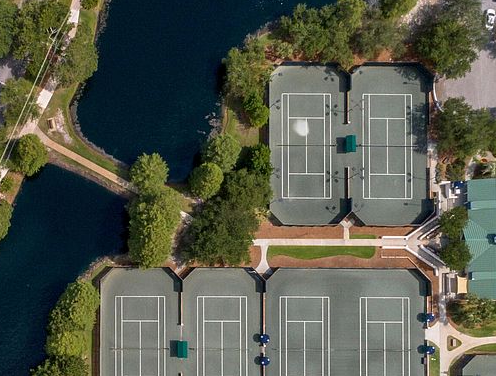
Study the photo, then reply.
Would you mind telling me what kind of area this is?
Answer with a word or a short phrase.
sports ground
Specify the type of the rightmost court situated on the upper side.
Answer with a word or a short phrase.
tennis court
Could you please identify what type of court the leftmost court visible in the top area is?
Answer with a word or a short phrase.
tennis court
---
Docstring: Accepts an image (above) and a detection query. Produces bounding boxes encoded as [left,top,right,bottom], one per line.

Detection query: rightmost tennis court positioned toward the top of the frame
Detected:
[350,67,429,223]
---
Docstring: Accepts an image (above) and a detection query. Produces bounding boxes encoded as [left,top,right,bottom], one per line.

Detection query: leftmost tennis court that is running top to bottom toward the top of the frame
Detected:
[275,66,350,222]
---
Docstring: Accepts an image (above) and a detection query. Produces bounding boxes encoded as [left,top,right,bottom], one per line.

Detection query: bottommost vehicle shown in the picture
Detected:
[484,9,496,31]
